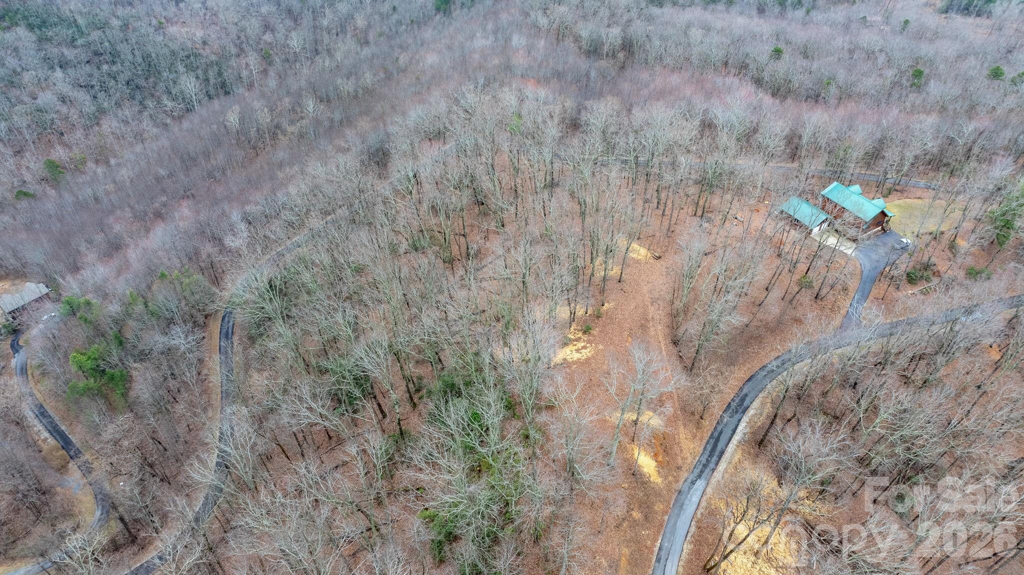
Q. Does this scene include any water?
No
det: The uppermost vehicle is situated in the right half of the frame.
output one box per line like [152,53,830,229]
[893,236,915,251]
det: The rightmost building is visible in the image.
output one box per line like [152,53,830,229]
[818,179,897,239]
